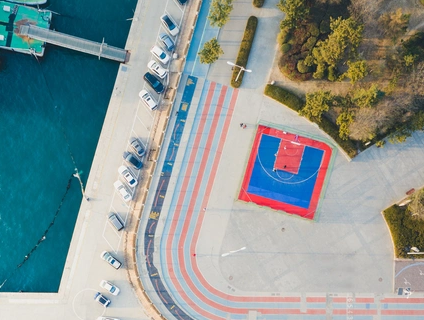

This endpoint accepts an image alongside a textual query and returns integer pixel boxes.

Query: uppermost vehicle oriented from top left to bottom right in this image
[160,14,180,35]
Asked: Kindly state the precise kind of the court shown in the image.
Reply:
basketball court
